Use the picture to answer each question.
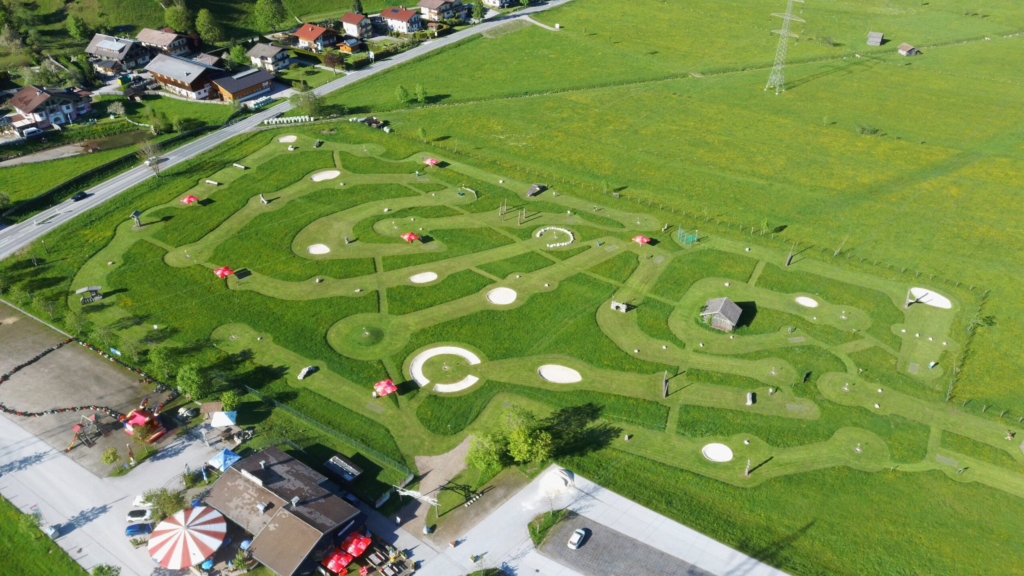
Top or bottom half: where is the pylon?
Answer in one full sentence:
The pylon is in the top half of the image.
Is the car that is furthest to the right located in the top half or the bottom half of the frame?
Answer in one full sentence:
The car that is furthest to the right is in the bottom half of the image.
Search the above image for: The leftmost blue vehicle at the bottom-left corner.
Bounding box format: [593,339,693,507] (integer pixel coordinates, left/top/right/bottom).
[120,523,154,538]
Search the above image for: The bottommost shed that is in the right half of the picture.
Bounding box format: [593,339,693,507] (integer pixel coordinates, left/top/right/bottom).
[699,295,743,332]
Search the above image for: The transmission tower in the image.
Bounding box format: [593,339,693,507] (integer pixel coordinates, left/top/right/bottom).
[762,0,805,94]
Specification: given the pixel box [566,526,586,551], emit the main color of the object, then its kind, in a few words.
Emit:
white car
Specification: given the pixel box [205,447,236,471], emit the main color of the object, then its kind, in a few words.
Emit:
white tent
